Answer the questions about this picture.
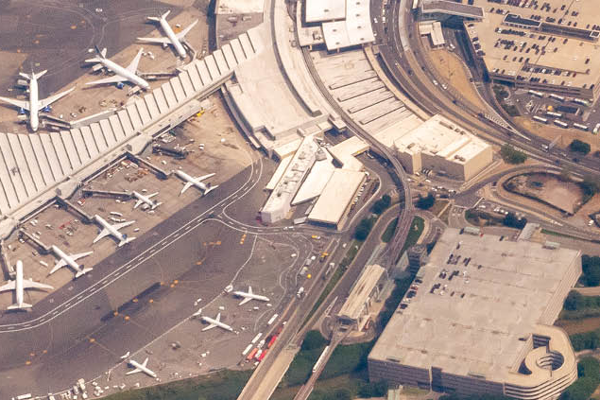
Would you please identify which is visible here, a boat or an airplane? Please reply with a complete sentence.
Of the two, only an airplane appears.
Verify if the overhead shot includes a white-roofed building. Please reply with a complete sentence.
Yes, a white-roofed building appears in the view.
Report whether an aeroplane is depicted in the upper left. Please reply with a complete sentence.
Yes, there is an aeroplane in the upper left.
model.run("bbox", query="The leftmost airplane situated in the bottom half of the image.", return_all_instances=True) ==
[0,260,61,308]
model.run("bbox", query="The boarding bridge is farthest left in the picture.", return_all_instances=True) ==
[2,242,16,281]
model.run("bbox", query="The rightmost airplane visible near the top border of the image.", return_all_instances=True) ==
[131,3,203,56]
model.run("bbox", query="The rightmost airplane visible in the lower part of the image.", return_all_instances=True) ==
[231,284,269,304]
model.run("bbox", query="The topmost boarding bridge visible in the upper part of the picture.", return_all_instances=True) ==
[179,37,196,62]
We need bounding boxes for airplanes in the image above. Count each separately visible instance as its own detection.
[200,310,232,329]
[49,244,94,278]
[177,170,216,194]
[231,284,269,304]
[135,192,159,208]
[93,214,135,246]
[131,3,203,56]
[0,260,61,308]
[126,353,156,377]
[83,43,148,89]
[0,66,77,129]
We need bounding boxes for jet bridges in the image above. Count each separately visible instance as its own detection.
[79,186,135,200]
[128,156,178,181]
[179,37,196,62]
[153,142,193,163]
[38,111,58,127]
[2,242,16,281]
[66,199,98,224]
[38,117,60,131]
[18,224,56,252]
[136,69,179,81]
